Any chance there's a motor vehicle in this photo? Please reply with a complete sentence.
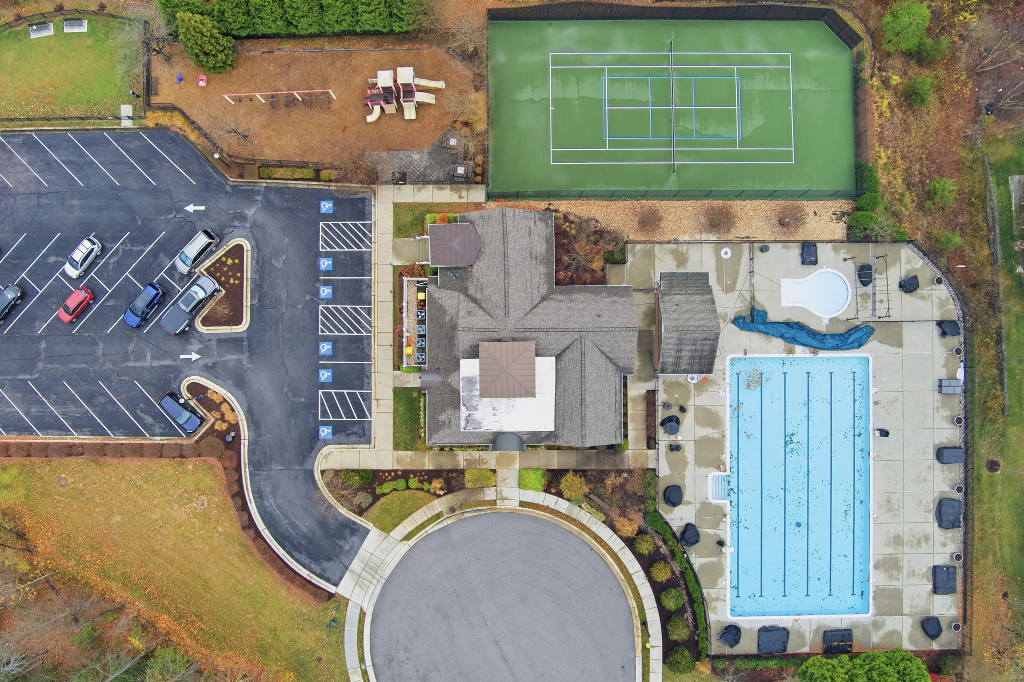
Yes, a motor vehicle is visible in the scene.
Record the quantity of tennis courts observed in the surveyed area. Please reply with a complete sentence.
The count comes to 1 tennis court.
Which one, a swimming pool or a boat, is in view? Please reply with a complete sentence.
There is a swimming pool in the scene.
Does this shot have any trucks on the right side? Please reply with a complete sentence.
No, looking on the right side, there is no truck.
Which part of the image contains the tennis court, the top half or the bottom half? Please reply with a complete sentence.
It is in the top half that the tennis court appears.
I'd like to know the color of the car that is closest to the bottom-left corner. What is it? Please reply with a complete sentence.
From above, the car that is closest to the bottom-left corner appears blue.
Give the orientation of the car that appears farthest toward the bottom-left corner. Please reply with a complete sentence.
The car that appears farthest toward the bottom-left corner has been laid out diagonally relative to the frame.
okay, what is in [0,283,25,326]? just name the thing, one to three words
car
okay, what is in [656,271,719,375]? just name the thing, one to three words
building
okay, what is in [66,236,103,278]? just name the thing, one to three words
car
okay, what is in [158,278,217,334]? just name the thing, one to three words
truck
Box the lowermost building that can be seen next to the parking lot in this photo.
[419,206,639,453]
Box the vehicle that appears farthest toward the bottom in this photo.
[159,389,203,434]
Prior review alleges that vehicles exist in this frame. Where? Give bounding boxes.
[0,283,25,326]
[59,286,96,324]
[158,278,217,334]
[66,236,103,278]
[175,228,220,275]
[159,389,203,434]
[126,283,166,326]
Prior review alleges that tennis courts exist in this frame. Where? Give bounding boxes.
[488,20,857,193]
